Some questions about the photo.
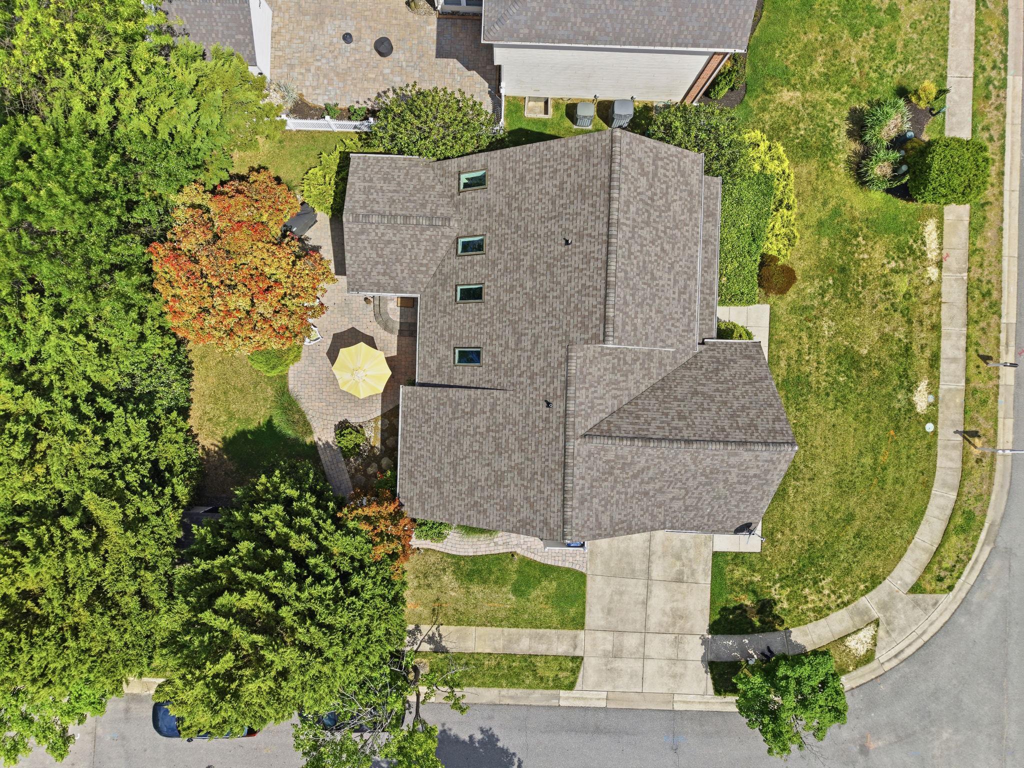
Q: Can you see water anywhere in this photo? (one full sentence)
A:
No, the picture contains no water.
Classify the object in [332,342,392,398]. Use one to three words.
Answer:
umbrella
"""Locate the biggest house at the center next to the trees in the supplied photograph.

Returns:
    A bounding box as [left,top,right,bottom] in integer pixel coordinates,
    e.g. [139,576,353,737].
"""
[343,129,797,557]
